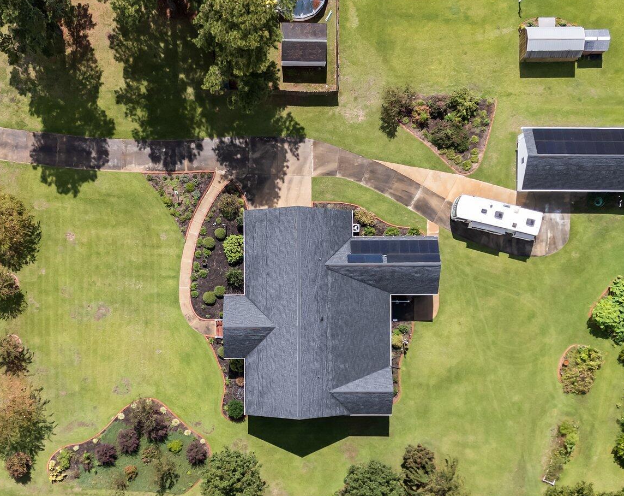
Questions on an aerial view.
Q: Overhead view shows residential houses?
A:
Yes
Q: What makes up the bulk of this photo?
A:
grass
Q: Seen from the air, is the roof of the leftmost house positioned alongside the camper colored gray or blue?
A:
gray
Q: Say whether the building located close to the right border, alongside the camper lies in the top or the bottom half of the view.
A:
top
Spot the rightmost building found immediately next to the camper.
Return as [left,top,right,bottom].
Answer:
[518,127,624,192]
